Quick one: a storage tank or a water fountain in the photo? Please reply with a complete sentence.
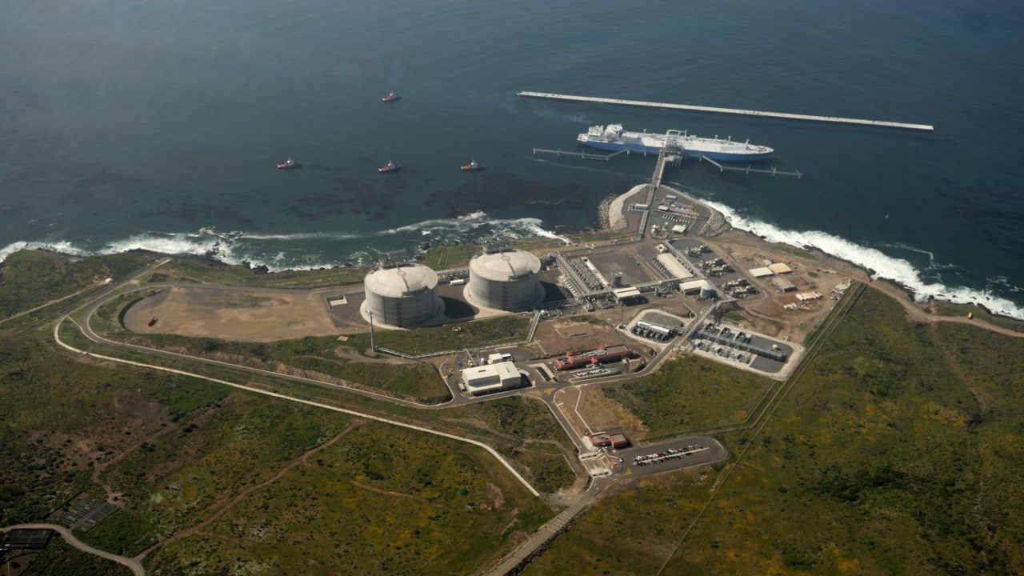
This aerial view contains a storage tank.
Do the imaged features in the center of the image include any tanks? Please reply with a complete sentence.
Yes, you'll find a tank in the center of the image.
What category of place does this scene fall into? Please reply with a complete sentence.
The area seen from above is a port.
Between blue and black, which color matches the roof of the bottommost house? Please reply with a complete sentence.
From above, the roof of the bottommost house appears black.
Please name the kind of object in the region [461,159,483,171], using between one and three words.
boat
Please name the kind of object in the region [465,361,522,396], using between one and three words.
building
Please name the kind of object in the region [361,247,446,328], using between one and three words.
storage tank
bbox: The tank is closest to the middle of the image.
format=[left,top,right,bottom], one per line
[465,235,546,312]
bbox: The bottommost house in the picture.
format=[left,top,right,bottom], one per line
[1,527,53,547]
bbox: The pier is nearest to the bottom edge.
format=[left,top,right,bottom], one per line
[650,148,670,183]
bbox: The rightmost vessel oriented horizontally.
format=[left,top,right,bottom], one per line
[576,122,775,163]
